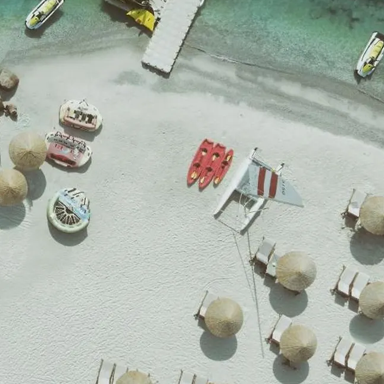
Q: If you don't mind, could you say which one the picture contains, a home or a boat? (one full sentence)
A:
There is a boat in the scene.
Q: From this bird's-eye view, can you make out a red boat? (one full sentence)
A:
Yes, I can see a red boat in this picture.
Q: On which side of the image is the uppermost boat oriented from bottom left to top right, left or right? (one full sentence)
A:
The uppermost boat oriented from bottom left to top right sits on the left side.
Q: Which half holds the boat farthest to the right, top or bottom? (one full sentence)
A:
It is in the top half that the boat farthest to the right appears.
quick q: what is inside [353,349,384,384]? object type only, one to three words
umbrella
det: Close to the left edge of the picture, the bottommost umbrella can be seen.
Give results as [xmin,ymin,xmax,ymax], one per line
[0,167,28,209]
